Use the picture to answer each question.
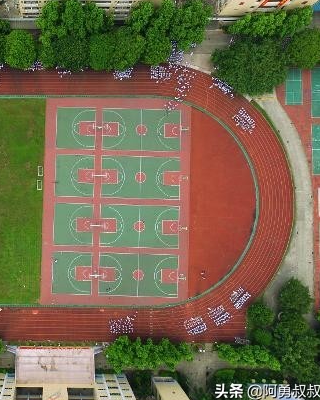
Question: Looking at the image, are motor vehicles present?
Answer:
No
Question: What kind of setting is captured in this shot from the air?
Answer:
sports ground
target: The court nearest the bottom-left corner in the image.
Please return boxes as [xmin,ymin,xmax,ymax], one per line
[52,252,92,295]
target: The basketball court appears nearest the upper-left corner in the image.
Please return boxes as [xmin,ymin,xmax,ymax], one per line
[56,107,95,149]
